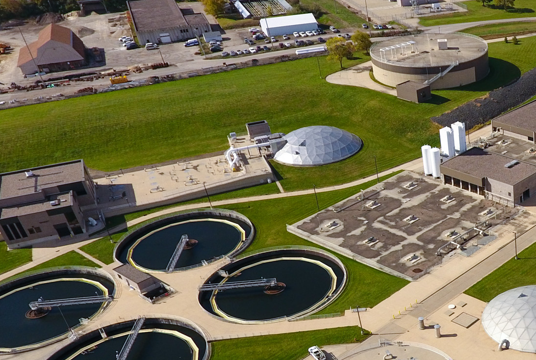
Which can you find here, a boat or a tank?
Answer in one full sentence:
I can see a tank in this picture.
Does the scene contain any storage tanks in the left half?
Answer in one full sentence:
Yes, the scene does show a storage tank in the left half.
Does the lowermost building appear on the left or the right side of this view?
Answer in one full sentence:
The lowermost building sits on the left side.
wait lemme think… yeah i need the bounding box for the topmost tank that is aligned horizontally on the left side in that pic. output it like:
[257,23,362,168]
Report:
[112,208,253,276]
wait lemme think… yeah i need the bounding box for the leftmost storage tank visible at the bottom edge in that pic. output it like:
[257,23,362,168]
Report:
[0,266,120,358]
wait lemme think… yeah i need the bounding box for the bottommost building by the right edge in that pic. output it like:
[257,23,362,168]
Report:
[441,147,536,206]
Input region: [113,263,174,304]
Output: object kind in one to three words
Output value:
building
